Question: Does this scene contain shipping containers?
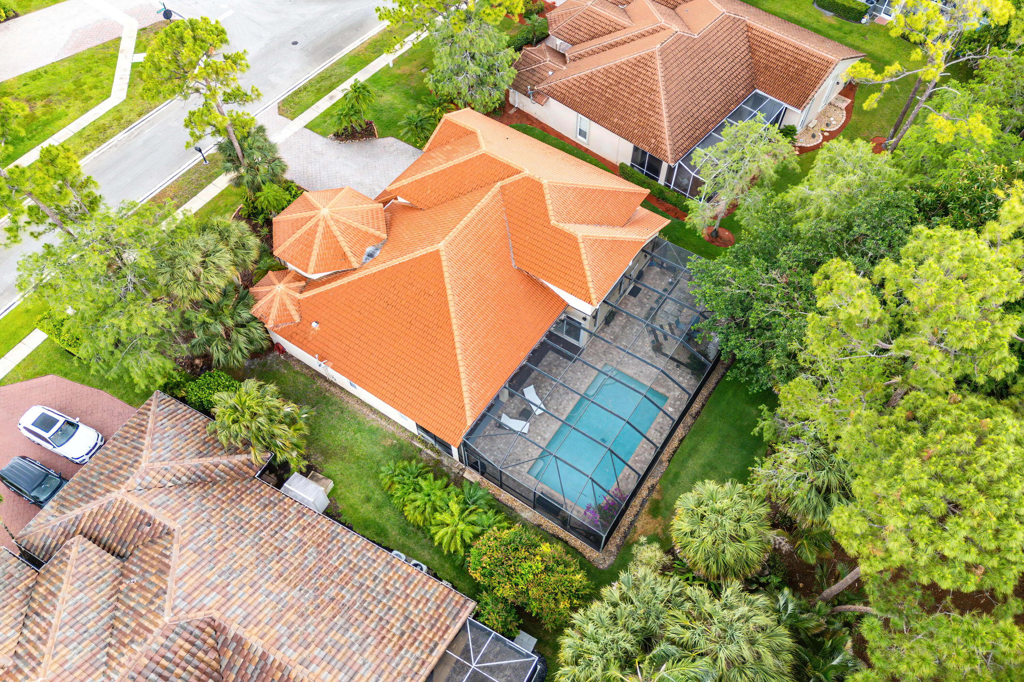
No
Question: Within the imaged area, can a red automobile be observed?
No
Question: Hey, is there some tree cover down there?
Yes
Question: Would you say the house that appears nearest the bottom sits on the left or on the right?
left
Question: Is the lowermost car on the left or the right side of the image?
left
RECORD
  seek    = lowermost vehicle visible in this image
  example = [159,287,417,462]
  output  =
[0,452,70,511]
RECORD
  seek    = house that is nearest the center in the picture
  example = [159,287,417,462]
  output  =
[252,106,673,463]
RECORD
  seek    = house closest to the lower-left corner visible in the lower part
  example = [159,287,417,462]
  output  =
[0,387,479,682]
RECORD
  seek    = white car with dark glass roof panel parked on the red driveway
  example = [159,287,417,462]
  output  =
[13,401,106,468]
